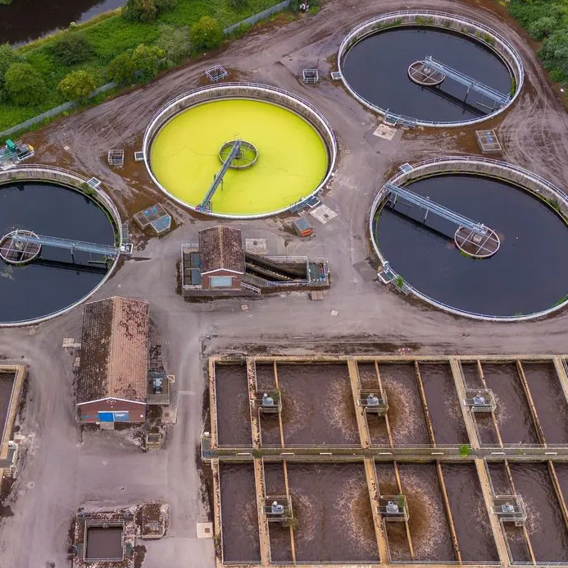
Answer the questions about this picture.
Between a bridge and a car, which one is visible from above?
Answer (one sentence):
The image shows a bridge.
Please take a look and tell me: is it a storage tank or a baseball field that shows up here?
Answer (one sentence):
This aerial view contains a storage tank.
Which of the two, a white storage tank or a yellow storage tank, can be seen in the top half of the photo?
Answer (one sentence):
There is a yellow storage tank in the top half of the photo.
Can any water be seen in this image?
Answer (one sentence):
Yes, there's water in this view.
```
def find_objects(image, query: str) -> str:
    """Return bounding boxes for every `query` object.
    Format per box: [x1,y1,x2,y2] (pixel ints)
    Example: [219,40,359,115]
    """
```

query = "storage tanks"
[141,81,338,220]
[371,157,568,324]
[0,164,129,328]
[338,10,525,129]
